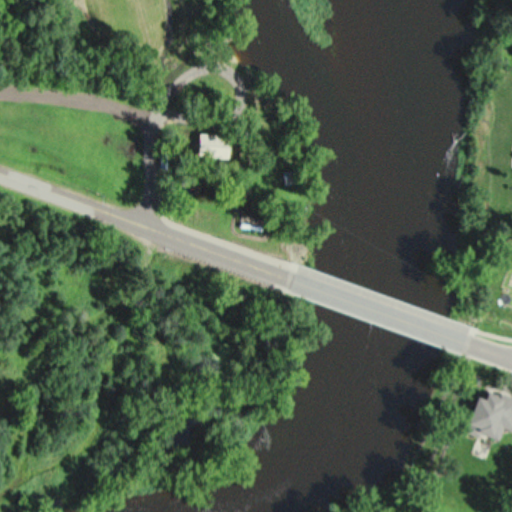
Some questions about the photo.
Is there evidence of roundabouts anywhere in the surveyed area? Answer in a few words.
No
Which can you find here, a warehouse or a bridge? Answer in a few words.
bridge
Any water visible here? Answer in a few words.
Yes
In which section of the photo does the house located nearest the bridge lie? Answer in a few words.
bottom right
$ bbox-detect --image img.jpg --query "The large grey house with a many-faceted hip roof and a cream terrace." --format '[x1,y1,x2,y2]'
[470,386,512,443]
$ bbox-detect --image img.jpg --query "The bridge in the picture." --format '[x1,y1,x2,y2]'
[283,261,477,357]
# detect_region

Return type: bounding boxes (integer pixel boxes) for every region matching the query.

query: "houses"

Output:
[199,132,232,160]
[470,386,512,443]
